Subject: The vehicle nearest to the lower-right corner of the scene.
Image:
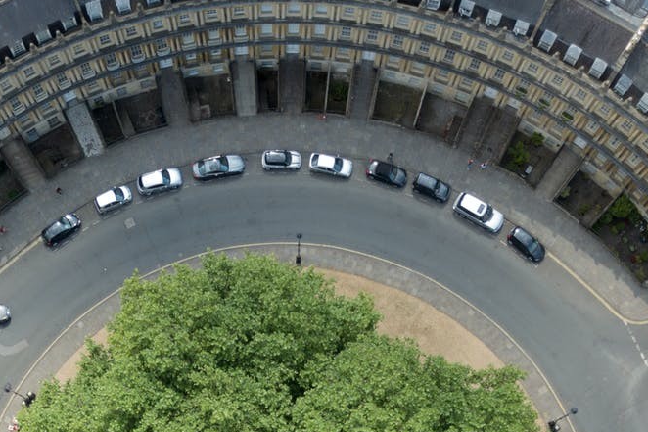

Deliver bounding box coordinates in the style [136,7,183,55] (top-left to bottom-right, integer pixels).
[505,226,546,264]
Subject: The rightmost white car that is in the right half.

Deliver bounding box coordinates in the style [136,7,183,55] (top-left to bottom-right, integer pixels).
[452,191,505,234]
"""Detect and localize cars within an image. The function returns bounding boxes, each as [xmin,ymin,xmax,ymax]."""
[409,171,452,203]
[0,305,11,324]
[93,184,134,215]
[309,155,354,179]
[193,154,245,182]
[41,213,84,249]
[261,148,302,171]
[505,226,546,264]
[136,166,184,197]
[365,159,408,187]
[452,191,505,234]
